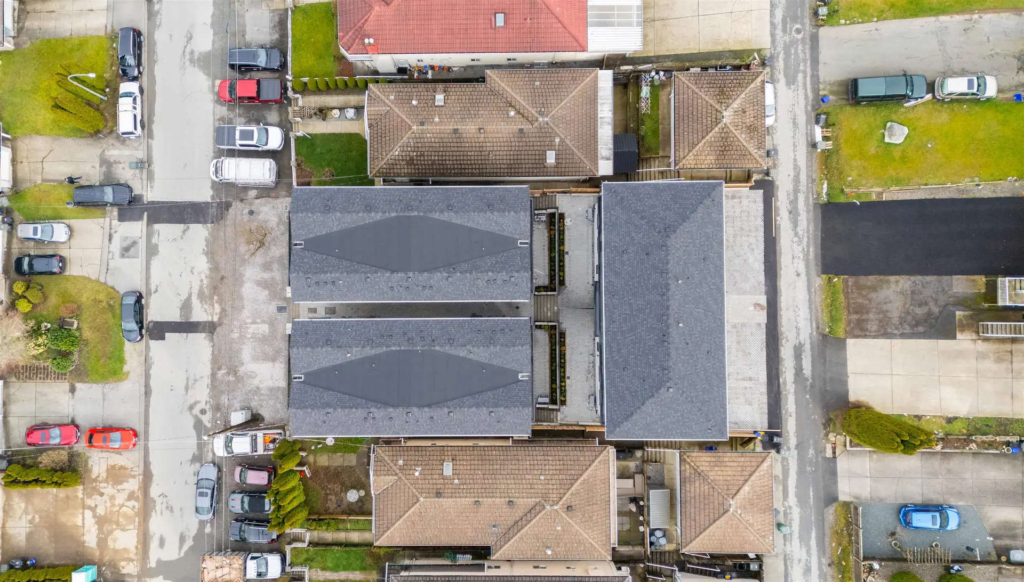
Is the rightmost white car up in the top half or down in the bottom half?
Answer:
top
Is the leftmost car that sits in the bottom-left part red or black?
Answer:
red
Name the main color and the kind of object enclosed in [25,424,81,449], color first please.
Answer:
red car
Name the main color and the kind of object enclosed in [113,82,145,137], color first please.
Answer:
white car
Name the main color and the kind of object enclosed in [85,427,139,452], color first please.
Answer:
red car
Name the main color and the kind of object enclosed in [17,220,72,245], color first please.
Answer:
white car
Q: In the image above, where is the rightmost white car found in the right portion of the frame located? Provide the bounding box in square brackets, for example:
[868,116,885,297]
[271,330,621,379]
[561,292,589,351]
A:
[931,72,996,101]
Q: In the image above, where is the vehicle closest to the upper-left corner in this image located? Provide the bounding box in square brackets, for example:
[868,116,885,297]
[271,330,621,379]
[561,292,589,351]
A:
[116,25,145,80]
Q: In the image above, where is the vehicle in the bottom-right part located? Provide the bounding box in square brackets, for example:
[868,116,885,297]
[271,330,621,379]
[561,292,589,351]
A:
[897,503,959,533]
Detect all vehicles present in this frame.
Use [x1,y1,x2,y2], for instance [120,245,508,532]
[16,253,67,276]
[212,157,277,184]
[227,45,285,72]
[897,503,959,533]
[846,70,926,103]
[193,462,221,520]
[17,220,72,245]
[85,427,139,452]
[71,181,135,207]
[231,491,278,516]
[767,75,781,132]
[235,464,277,487]
[113,82,145,137]
[116,25,145,80]
[218,76,283,104]
[25,424,81,449]
[215,432,285,459]
[230,518,282,544]
[119,290,147,342]
[931,72,996,101]
[216,123,284,150]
